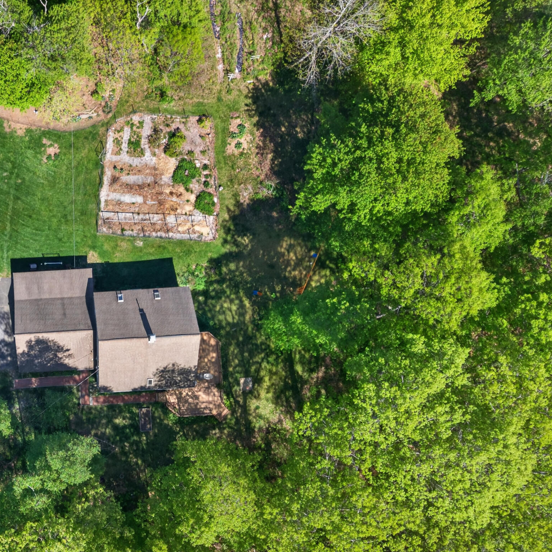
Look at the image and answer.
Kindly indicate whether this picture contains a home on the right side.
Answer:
No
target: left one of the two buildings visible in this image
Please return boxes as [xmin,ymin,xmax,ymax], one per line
[10,268,94,373]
